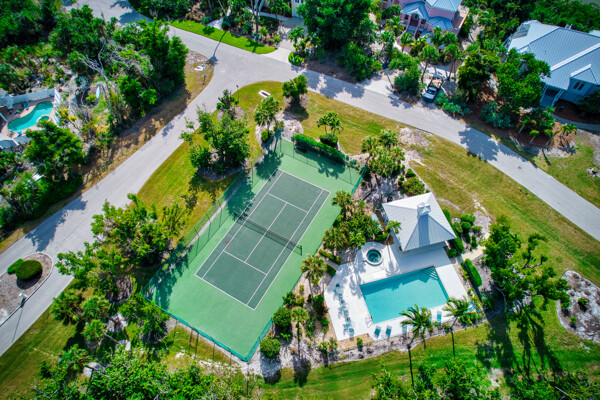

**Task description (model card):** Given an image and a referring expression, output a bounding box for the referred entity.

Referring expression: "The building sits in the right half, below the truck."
[382,193,456,255]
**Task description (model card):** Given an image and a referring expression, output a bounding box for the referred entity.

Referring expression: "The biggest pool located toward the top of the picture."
[6,101,54,131]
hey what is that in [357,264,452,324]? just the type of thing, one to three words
swimming pool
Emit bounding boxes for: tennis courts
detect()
[148,139,366,365]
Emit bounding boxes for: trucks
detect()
[421,75,446,102]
